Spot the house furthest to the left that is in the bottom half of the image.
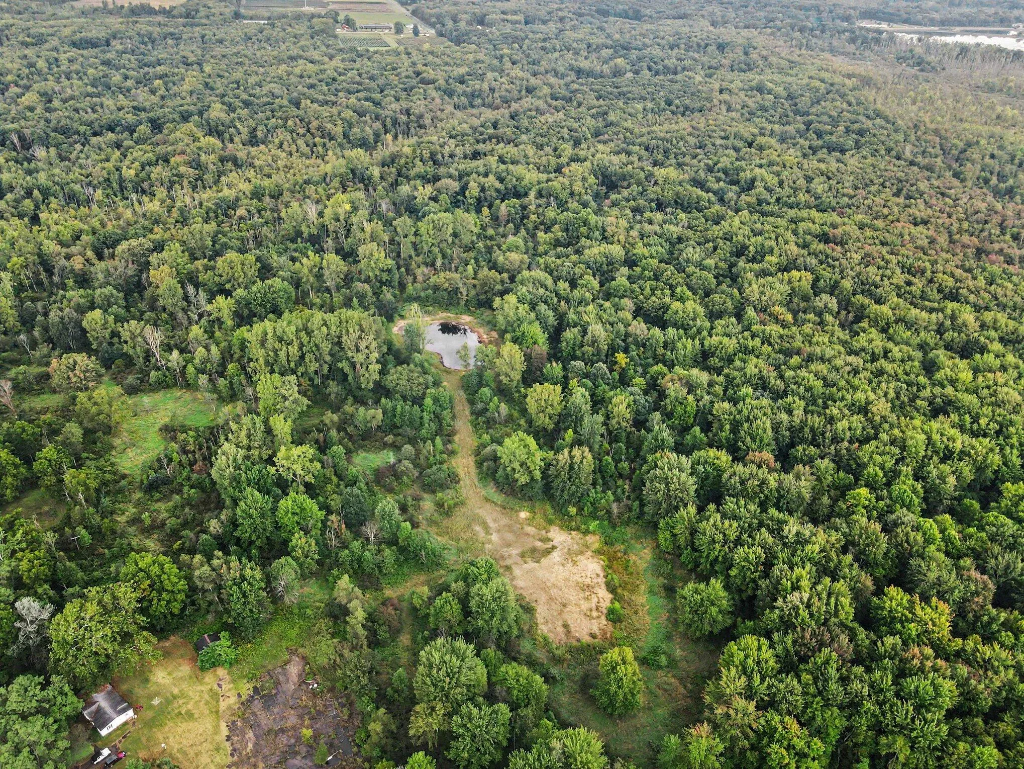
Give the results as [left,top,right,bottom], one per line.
[83,684,133,735]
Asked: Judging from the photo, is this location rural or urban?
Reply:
rural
